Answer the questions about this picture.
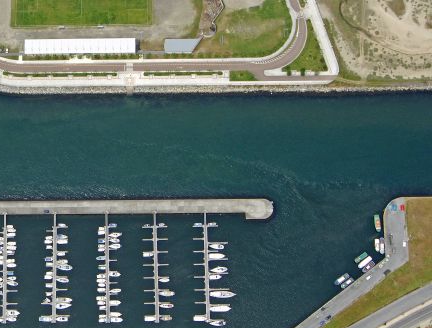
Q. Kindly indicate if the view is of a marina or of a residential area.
marina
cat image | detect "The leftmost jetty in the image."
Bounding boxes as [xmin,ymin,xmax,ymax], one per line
[0,215,18,324]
